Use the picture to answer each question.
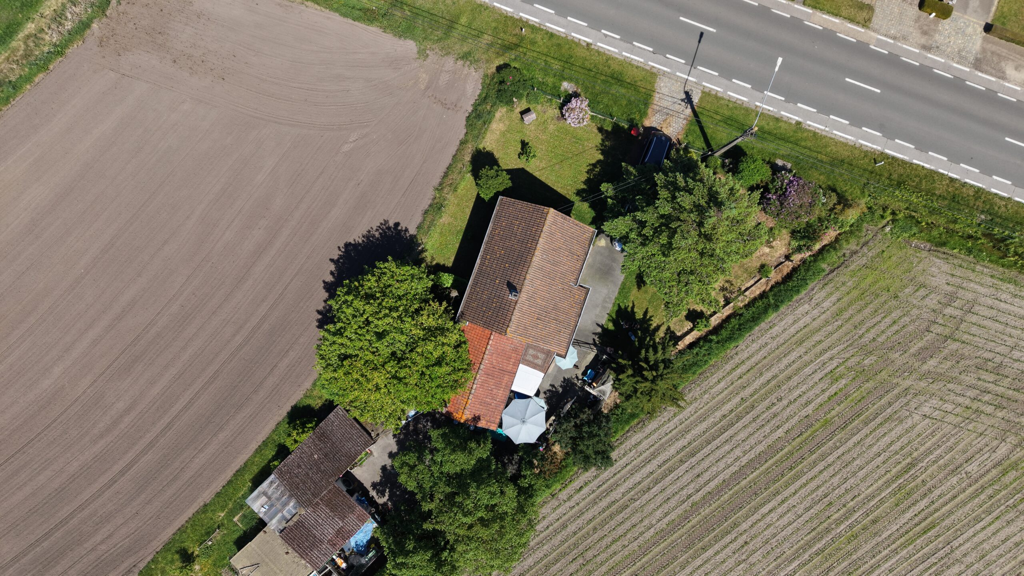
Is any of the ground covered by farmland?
Yes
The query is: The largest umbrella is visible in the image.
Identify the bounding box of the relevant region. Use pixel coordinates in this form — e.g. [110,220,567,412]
[502,398,546,442]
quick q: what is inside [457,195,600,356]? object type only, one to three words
house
